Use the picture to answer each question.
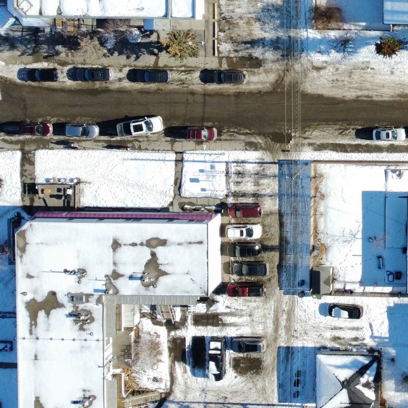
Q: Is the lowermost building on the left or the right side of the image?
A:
right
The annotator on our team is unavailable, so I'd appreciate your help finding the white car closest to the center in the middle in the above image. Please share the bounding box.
[226,223,263,240]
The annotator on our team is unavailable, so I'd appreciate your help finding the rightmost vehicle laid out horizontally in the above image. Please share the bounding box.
[373,127,406,141]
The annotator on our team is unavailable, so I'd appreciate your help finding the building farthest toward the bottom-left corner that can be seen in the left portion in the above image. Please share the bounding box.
[16,211,222,408]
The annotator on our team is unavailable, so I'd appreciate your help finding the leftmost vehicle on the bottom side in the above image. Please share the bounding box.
[206,335,226,382]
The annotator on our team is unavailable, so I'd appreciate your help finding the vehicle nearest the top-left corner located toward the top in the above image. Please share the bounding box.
[27,66,65,83]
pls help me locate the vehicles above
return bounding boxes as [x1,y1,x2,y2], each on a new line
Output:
[226,223,263,240]
[136,67,173,84]
[115,115,165,138]
[75,66,114,83]
[213,68,251,87]
[27,66,65,83]
[373,127,406,141]
[18,121,56,137]
[206,335,226,382]
[232,336,267,353]
[227,280,267,297]
[228,242,263,259]
[331,302,364,320]
[229,202,263,218]
[186,125,219,141]
[66,122,101,139]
